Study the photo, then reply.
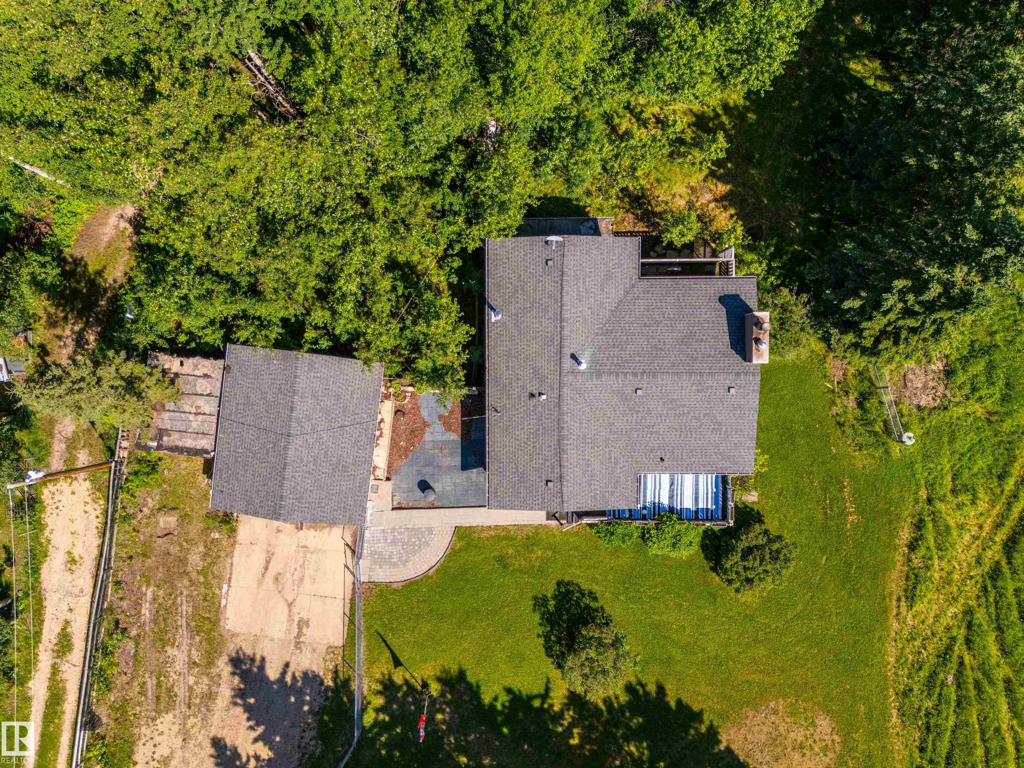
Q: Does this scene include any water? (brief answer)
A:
No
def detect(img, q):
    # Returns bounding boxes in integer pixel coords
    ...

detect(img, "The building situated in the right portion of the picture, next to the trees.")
[485,235,772,512]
